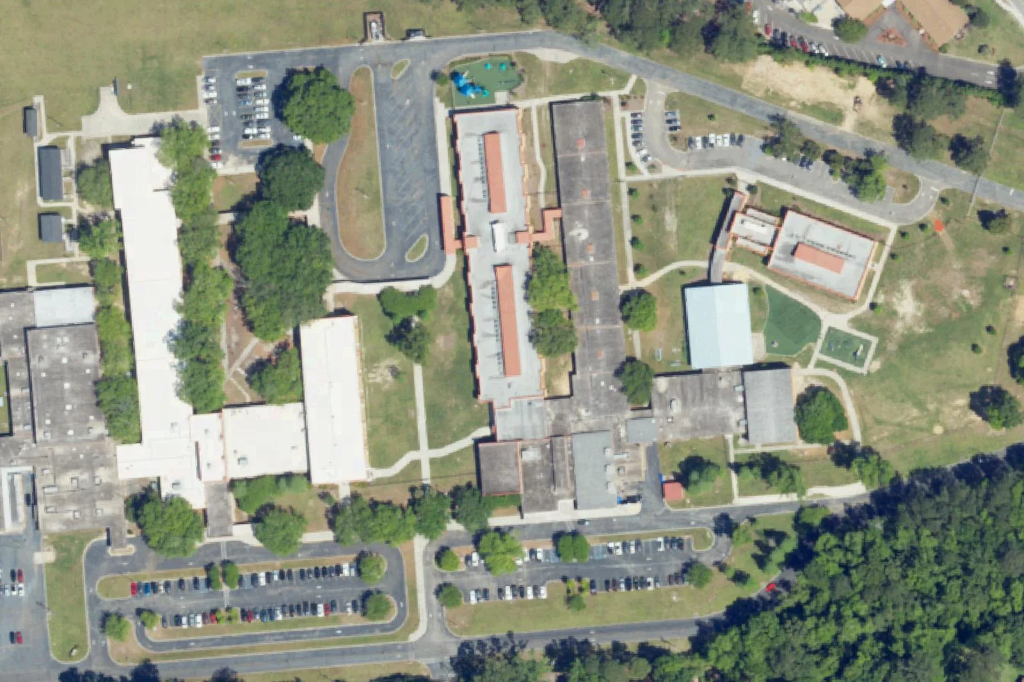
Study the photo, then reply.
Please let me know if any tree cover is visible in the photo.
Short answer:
Yes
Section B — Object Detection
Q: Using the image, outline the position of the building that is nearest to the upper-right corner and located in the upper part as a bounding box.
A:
[904,0,969,47]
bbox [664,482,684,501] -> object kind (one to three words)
shed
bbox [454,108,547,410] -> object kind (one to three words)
building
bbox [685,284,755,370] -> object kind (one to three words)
building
